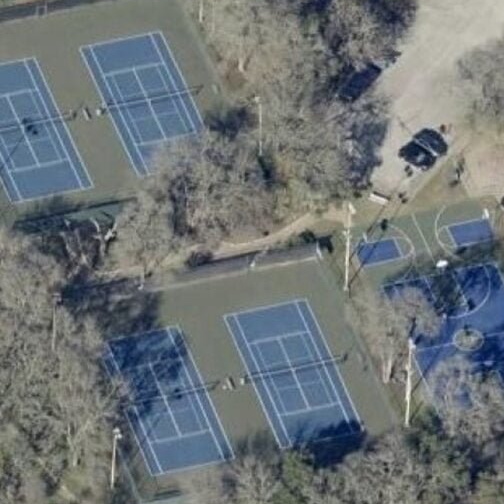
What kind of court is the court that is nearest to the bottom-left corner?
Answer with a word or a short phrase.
tennis court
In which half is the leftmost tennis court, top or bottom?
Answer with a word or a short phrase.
top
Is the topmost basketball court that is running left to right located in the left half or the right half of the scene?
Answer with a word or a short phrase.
right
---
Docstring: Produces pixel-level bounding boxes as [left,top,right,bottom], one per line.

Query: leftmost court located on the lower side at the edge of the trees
[95,324,235,475]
